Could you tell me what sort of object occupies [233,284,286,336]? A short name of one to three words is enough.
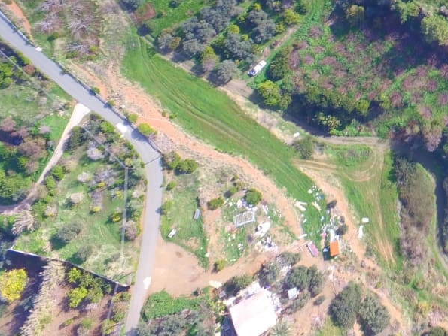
building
